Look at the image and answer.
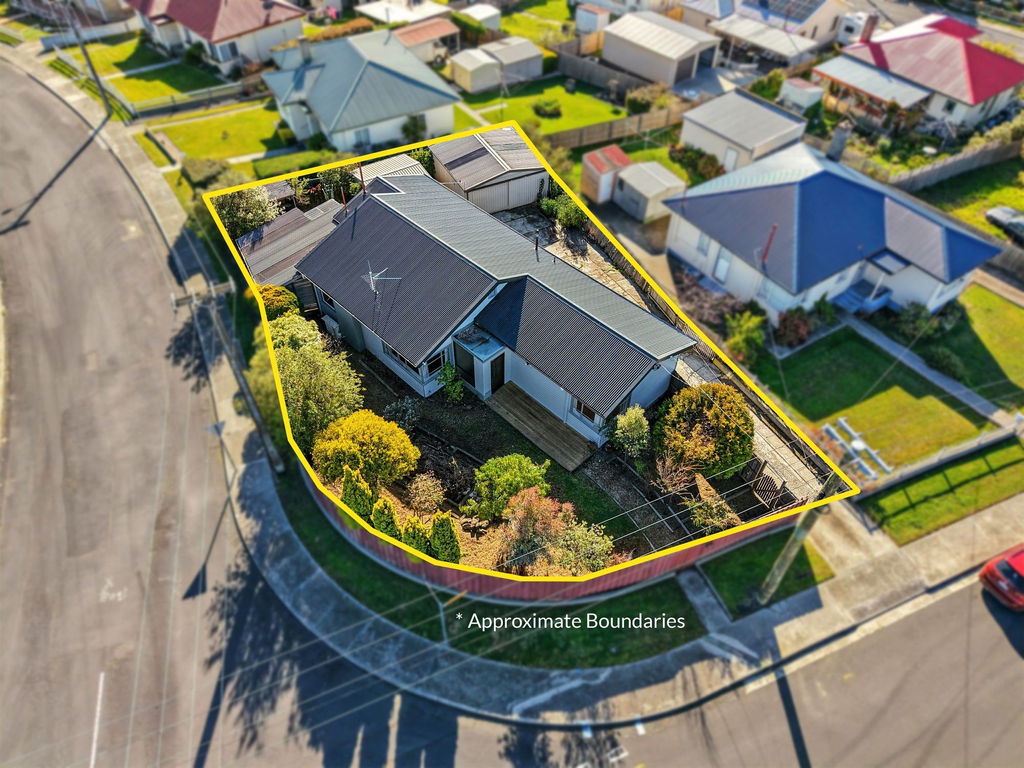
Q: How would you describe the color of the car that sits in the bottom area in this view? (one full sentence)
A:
The car that sits in the bottom area looks red in the image.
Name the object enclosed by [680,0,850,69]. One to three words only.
house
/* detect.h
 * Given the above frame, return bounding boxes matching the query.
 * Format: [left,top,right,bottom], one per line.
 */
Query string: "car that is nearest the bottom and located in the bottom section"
[975,549,1024,616]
